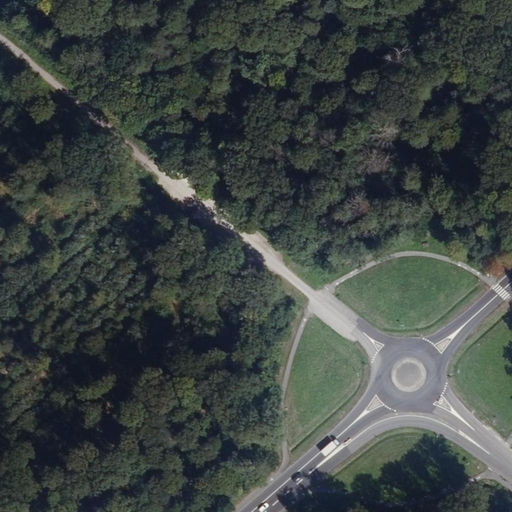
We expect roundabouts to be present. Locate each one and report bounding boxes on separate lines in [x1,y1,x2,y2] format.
[352,318,450,412]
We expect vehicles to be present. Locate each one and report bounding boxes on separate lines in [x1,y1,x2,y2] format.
[322,439,340,456]
[260,504,268,512]
[294,474,302,482]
